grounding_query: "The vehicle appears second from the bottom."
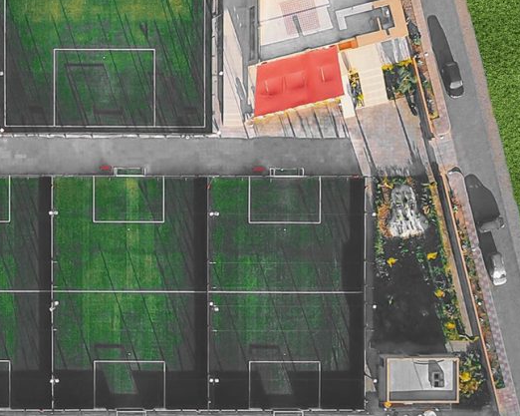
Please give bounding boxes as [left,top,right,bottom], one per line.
[476,216,506,234]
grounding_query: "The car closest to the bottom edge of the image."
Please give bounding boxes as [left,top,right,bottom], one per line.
[488,254,510,287]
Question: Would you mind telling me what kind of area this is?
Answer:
sports ground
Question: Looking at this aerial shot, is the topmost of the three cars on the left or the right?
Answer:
right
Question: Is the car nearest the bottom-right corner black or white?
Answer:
white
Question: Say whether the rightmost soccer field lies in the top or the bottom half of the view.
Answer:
bottom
